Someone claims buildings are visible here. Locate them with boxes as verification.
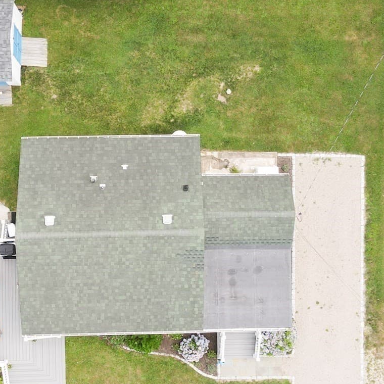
[15,132,302,339]
[0,0,21,86]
